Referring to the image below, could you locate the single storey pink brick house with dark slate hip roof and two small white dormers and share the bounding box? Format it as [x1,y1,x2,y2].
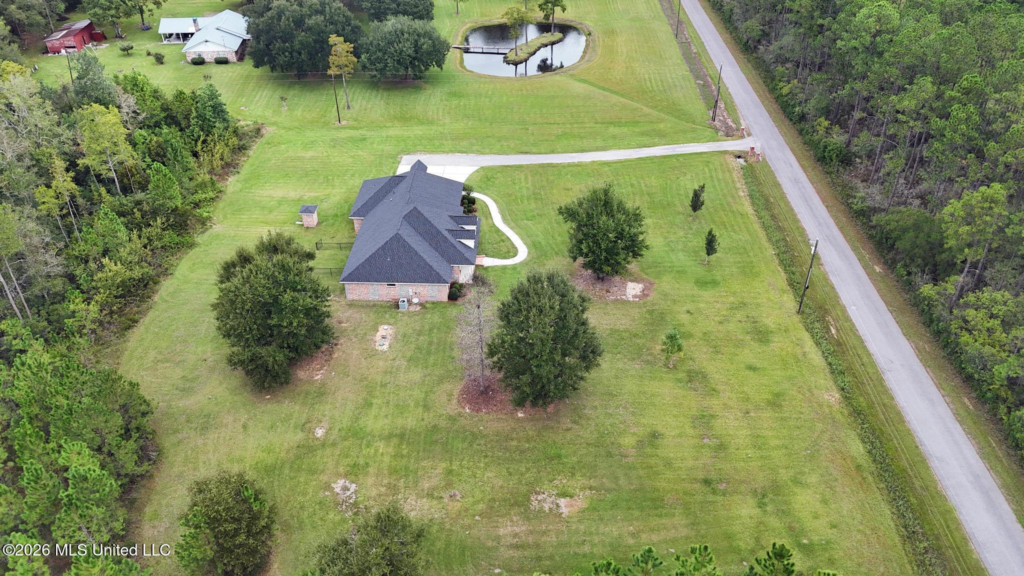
[339,158,485,299]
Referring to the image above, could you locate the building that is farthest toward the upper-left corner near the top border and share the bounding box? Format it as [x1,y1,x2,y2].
[41,22,89,53]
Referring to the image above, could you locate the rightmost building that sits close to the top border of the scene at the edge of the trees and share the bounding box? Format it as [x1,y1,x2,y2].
[153,10,246,63]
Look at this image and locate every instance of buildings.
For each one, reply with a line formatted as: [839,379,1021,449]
[298,205,319,227]
[339,158,485,299]
[153,10,246,63]
[41,22,89,53]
